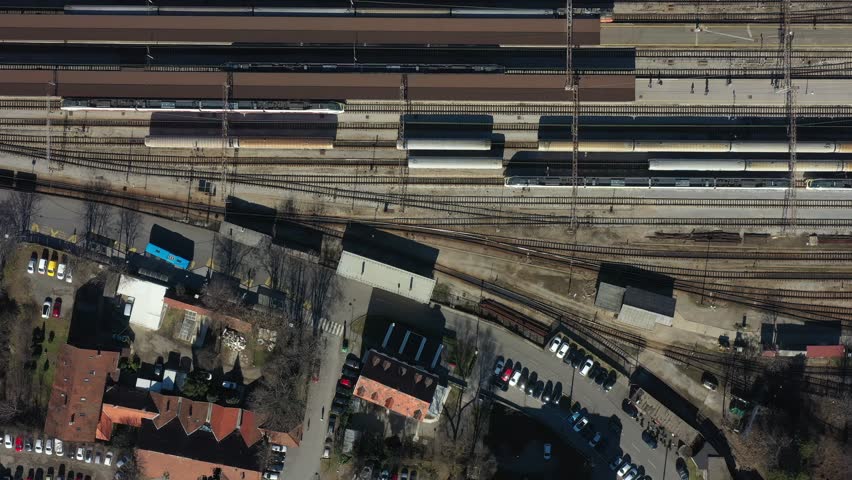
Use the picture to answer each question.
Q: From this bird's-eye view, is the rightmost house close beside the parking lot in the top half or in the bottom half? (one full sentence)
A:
The bottom half of the photo is where the rightmost house close beside the parking lot is.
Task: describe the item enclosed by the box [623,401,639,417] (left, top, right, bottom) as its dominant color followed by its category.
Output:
black car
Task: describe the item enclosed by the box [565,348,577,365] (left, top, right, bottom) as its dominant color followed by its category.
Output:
black vehicle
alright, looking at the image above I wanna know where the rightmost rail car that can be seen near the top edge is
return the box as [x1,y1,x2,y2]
[554,7,610,21]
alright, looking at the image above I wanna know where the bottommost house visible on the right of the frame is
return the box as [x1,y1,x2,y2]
[692,439,731,480]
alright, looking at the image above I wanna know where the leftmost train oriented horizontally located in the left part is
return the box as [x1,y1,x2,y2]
[63,97,345,111]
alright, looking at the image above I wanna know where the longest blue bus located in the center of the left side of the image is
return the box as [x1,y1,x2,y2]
[146,244,193,272]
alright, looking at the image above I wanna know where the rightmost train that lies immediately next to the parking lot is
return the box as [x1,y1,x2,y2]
[503,176,790,189]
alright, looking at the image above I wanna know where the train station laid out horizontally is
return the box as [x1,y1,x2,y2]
[0,14,852,104]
